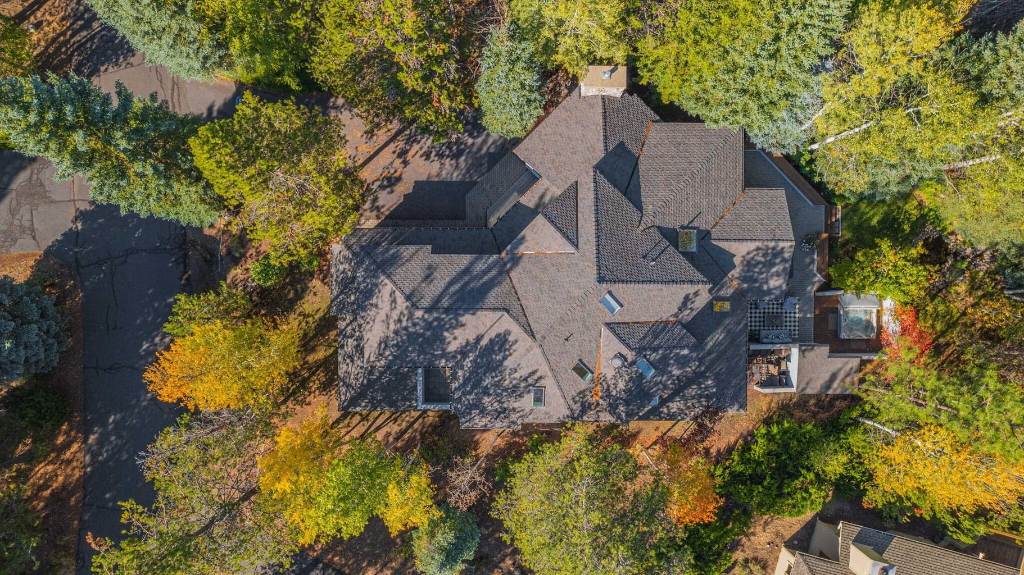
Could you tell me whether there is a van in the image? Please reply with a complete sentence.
No, the scene contains no van.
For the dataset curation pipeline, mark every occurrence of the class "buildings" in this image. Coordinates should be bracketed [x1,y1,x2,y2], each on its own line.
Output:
[773,515,1022,575]
[329,67,794,431]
